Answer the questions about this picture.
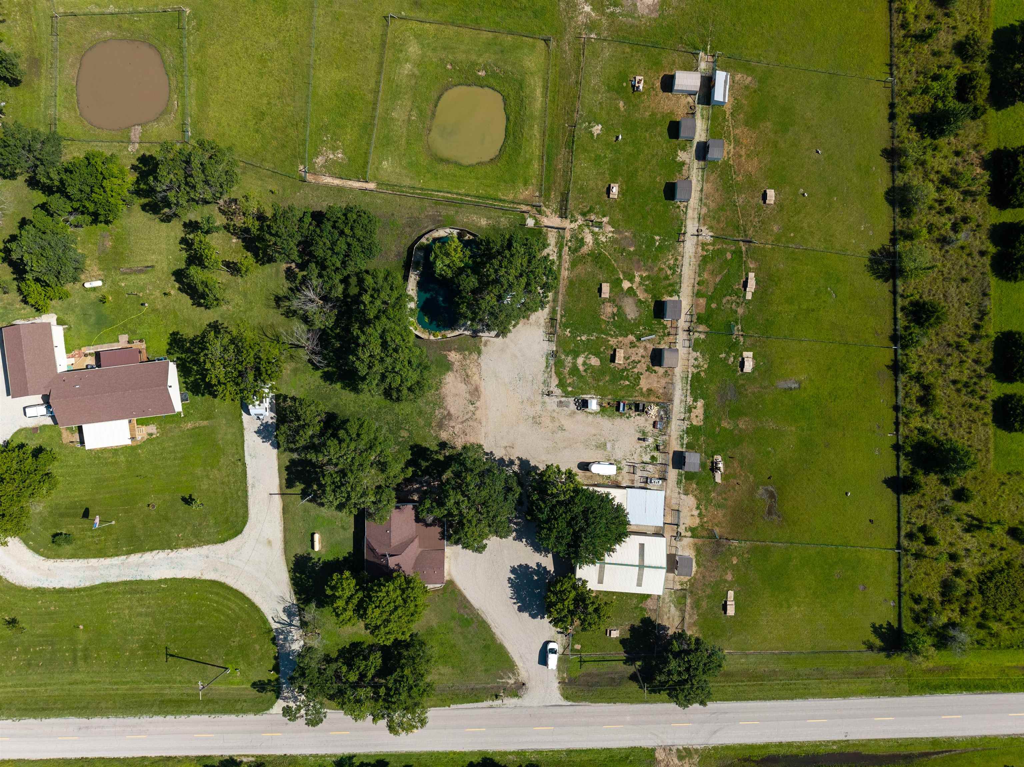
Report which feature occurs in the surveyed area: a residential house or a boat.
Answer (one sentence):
This aerial view contains a residential house.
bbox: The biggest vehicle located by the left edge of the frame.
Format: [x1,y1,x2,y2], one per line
[24,403,54,417]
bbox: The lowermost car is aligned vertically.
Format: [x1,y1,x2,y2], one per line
[546,641,558,669]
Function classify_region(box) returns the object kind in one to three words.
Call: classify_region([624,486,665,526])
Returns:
shed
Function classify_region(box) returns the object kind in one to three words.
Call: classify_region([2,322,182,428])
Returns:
house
